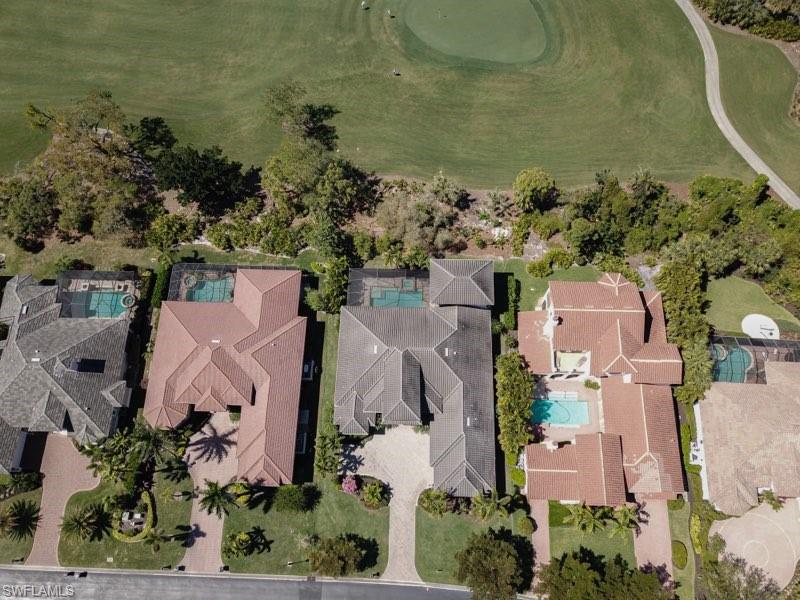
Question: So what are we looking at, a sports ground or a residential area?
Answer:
residential area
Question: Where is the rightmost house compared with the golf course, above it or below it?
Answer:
below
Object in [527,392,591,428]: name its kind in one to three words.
swimming pool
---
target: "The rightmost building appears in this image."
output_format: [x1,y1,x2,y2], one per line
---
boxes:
[694,362,800,511]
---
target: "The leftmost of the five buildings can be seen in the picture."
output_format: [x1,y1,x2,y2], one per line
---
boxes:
[0,273,139,473]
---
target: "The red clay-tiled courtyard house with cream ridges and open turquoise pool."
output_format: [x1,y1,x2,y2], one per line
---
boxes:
[518,273,685,504]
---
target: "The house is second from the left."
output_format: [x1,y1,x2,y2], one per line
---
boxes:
[138,269,305,488]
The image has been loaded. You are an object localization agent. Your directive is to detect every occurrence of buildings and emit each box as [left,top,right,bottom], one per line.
[518,273,685,504]
[694,362,800,511]
[138,269,305,488]
[0,273,139,473]
[333,259,495,498]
